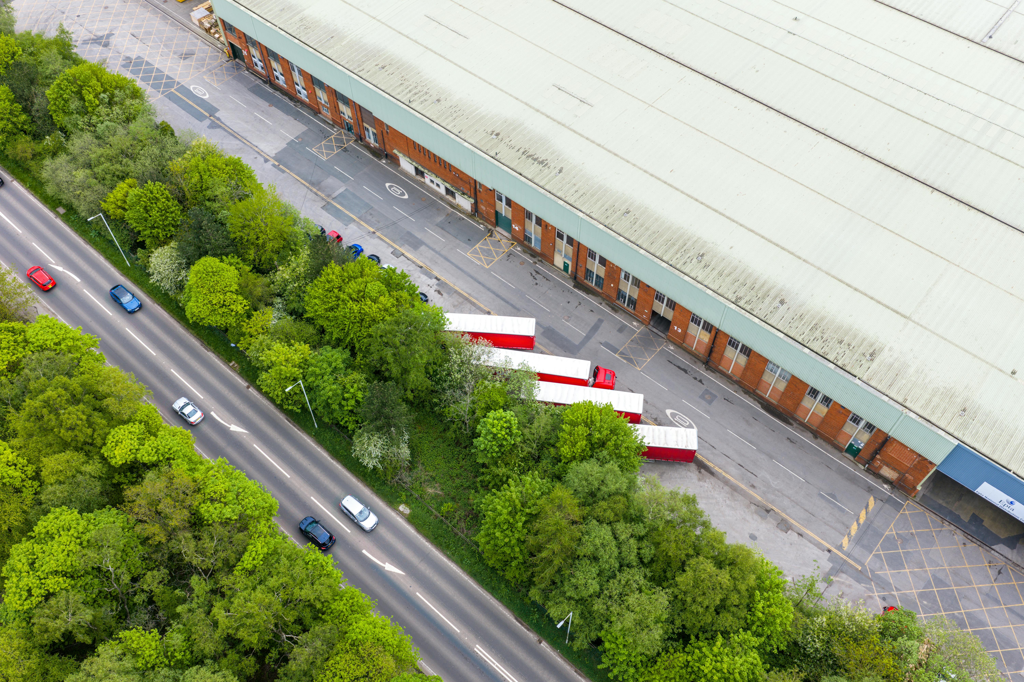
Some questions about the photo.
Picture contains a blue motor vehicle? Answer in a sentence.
Yes, a blue motor vehicle is visible in the scene.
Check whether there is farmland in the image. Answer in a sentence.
No, there's no farmland in this view.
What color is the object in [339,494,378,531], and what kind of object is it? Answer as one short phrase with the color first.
white car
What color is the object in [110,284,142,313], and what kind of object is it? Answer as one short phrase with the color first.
blue car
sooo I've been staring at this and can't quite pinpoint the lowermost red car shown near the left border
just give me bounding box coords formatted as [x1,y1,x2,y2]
[29,268,56,292]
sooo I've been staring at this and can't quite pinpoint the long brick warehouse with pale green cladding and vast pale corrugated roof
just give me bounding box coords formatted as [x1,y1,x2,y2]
[211,0,1024,567]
